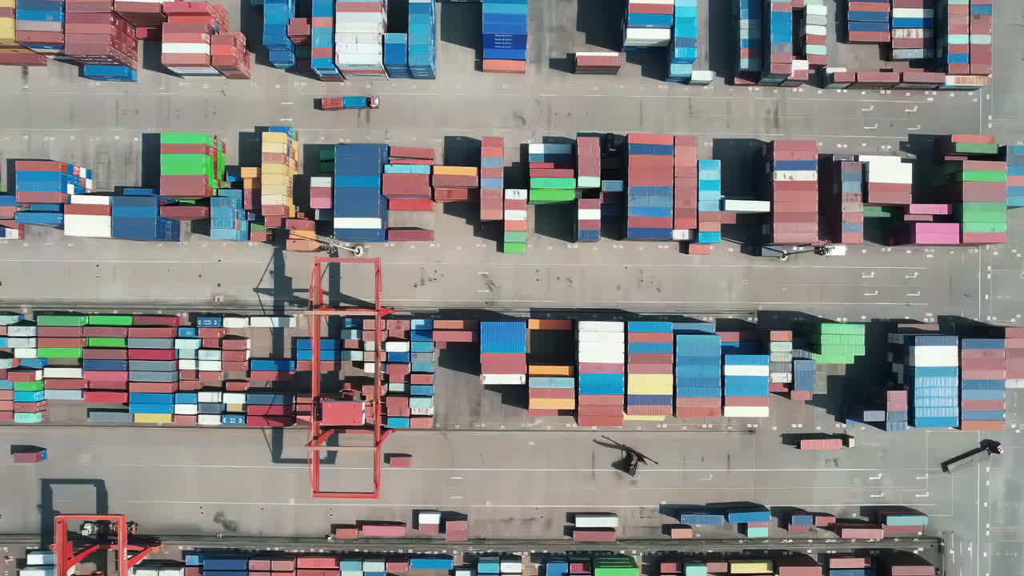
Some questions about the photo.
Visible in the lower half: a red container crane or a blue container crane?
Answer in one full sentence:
There is a red container crane in the lower half.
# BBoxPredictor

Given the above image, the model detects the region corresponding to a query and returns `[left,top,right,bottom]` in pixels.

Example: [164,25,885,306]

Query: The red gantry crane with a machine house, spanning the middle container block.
[303,258,396,498]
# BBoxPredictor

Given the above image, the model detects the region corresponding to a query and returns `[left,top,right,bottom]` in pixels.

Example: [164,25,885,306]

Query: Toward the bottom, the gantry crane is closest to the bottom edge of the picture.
[40,513,163,576]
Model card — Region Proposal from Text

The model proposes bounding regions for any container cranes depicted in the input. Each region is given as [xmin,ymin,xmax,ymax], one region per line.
[40,513,163,576]
[303,258,396,498]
